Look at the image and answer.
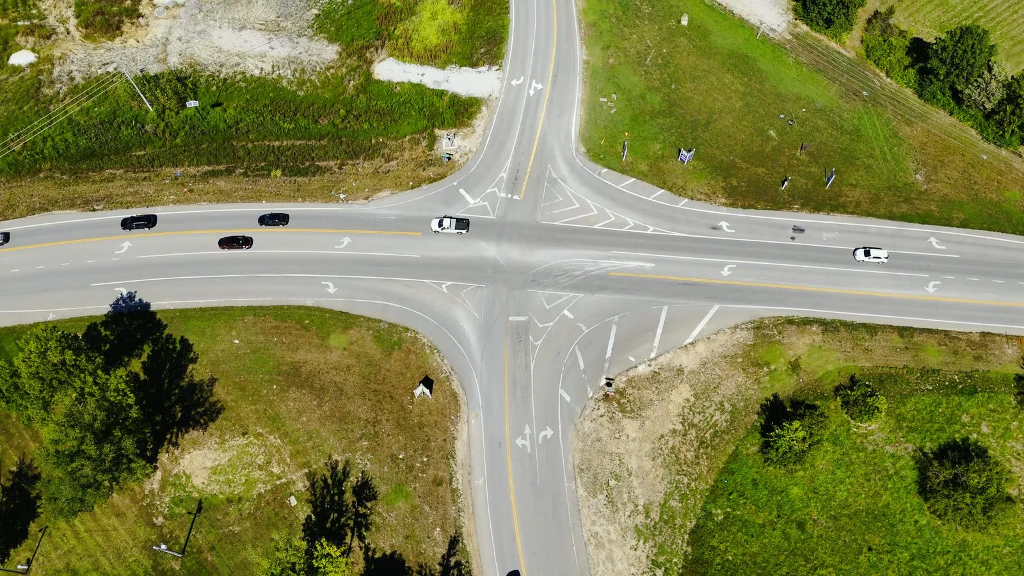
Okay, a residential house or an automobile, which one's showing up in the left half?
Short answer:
automobile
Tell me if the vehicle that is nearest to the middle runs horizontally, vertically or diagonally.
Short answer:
horizontally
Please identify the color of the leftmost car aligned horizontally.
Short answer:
black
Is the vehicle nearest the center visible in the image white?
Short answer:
Yes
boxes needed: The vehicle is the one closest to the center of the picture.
[429,215,473,235]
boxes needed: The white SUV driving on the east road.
[854,246,892,265]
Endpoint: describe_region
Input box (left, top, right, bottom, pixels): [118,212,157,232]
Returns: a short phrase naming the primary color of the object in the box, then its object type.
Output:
black car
